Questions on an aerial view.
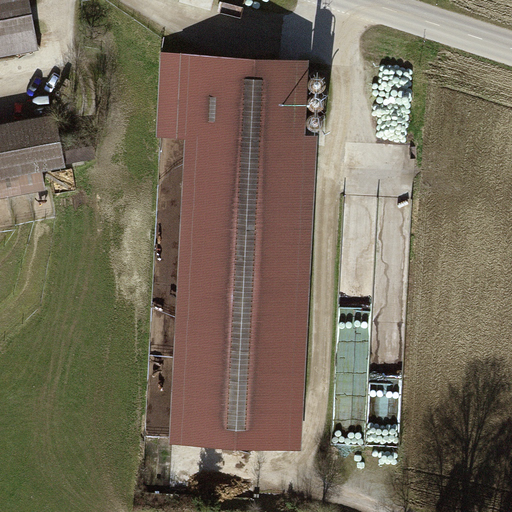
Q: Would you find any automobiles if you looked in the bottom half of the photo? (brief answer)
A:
No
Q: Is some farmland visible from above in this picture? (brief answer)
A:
Yes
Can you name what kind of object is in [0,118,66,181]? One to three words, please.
house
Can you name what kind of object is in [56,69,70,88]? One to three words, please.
car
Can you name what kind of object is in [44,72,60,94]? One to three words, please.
car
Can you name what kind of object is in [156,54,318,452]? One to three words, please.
barn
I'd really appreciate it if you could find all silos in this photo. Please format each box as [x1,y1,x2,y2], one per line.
[305,72,329,96]
[306,92,328,114]
[304,111,327,134]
